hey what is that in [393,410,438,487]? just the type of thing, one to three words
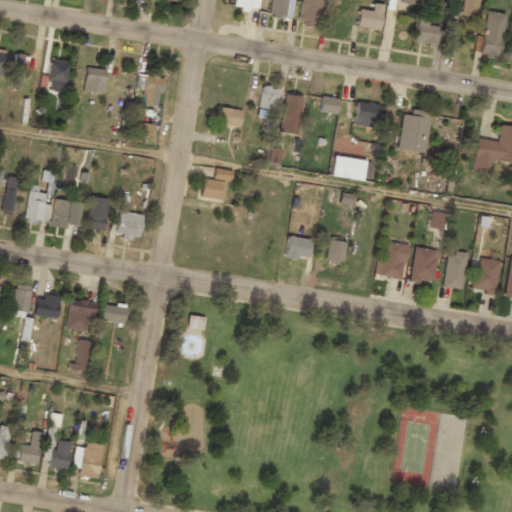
tennis court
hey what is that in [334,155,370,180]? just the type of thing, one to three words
building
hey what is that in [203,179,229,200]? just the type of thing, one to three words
house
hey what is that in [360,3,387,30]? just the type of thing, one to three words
house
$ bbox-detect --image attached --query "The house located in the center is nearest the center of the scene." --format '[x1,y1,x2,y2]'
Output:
[287,236,313,259]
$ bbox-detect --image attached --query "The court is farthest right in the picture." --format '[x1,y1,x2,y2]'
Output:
[430,414,466,491]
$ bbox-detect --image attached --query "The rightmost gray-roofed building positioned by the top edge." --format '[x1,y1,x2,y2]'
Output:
[482,10,508,58]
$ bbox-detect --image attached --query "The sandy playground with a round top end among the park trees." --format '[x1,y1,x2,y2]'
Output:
[160,404,205,459]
